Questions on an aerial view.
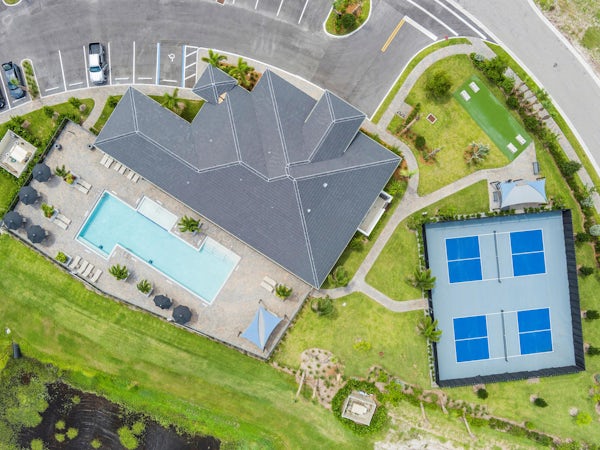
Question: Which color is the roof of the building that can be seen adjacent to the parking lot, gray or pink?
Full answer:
The roof of the building that can be seen adjacent to the parking lot is gray.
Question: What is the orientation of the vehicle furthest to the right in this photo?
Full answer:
The vehicle furthest to the right is laid out up and down.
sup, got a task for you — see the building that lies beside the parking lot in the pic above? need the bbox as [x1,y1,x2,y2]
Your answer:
[93,62,402,288]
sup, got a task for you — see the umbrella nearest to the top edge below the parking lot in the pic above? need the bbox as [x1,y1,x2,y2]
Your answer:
[32,163,53,182]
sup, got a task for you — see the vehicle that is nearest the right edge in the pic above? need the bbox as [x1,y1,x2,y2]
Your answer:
[88,41,108,86]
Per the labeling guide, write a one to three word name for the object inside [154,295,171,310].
umbrella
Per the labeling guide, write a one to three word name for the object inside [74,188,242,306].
swimming pool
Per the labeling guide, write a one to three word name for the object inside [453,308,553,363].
sports court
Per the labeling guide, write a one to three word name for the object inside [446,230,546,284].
sports court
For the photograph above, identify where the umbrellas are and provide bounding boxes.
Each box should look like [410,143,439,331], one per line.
[32,163,53,182]
[154,295,171,310]
[19,186,40,205]
[5,212,26,230]
[172,305,191,324]
[26,225,47,244]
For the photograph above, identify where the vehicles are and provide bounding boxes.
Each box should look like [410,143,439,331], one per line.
[2,63,28,100]
[88,41,108,86]
[0,89,6,107]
